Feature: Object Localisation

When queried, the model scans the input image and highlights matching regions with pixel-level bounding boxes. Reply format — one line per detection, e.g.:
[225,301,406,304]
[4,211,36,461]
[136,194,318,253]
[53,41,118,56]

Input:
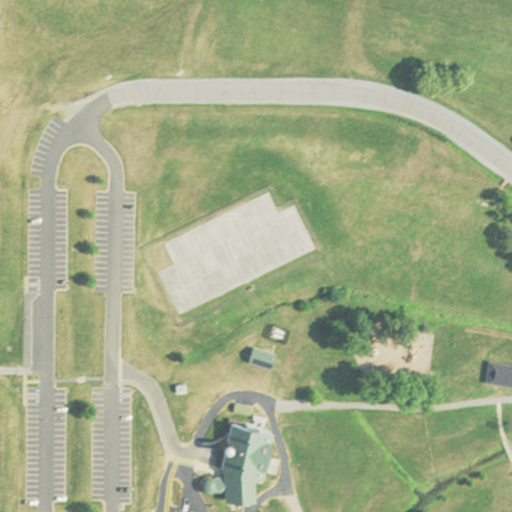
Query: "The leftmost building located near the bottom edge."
[202,478,225,498]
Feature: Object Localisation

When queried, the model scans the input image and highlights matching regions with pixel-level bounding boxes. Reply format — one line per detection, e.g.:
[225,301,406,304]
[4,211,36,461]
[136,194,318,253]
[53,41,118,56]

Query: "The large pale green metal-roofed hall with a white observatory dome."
[222,424,274,508]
